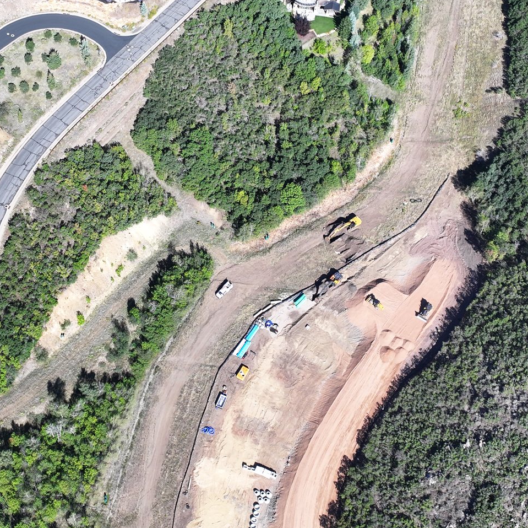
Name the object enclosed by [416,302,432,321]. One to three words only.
work vehicle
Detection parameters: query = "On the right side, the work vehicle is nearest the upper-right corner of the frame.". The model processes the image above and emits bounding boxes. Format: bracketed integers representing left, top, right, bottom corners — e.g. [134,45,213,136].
[328,211,367,239]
